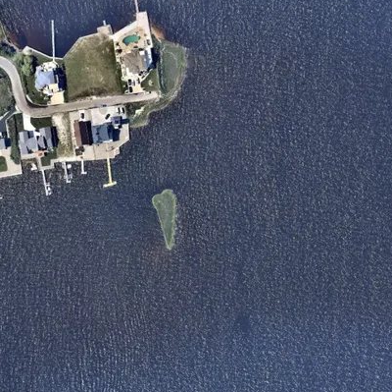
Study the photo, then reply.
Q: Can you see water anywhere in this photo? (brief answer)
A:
Yes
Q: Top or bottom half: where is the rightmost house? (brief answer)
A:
top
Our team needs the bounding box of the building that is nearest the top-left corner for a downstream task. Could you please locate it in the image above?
[34,68,59,92]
